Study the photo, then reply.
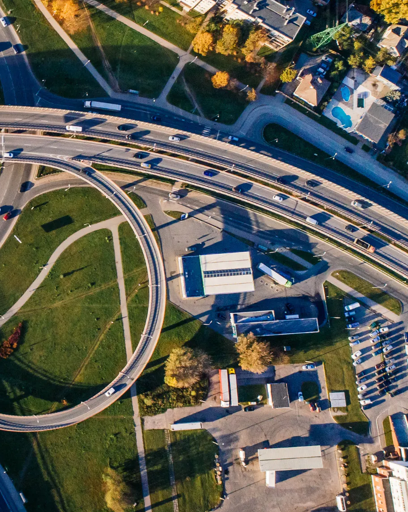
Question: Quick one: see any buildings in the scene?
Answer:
Yes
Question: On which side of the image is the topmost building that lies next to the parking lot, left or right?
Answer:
right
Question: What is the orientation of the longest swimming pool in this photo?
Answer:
on a diagonal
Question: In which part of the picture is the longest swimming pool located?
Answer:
top right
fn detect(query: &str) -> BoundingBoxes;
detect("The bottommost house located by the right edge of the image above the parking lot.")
[349,101,395,145]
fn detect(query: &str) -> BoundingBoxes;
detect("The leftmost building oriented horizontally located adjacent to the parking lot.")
[226,310,320,336]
